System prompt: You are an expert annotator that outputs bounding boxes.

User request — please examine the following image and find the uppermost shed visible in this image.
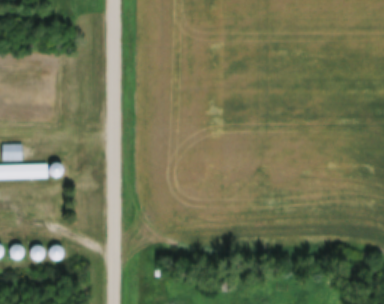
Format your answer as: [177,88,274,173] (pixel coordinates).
[0,143,22,162]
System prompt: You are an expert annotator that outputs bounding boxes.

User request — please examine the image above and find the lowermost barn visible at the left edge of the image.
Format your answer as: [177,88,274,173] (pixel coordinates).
[0,163,48,180]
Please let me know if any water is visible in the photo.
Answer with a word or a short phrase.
No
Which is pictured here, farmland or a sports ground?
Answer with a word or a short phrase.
farmland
